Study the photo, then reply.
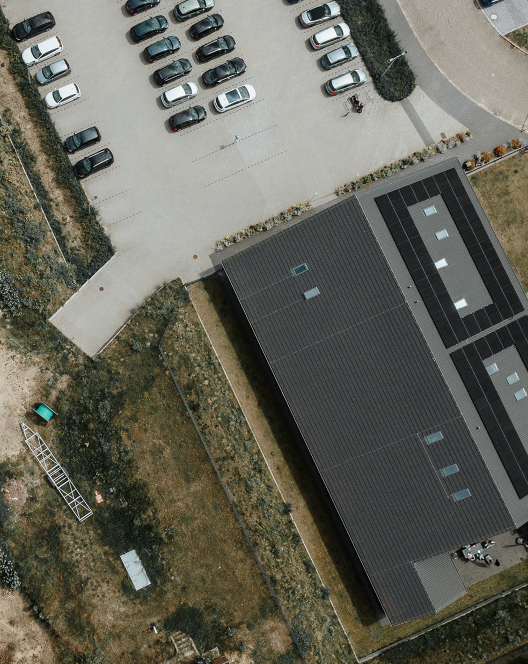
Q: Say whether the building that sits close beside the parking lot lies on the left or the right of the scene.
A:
right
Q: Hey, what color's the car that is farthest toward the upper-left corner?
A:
black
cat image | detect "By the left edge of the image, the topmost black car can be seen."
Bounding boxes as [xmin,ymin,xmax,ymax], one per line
[11,9,56,42]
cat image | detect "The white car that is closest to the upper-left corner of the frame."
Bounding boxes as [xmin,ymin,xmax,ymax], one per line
[22,36,62,67]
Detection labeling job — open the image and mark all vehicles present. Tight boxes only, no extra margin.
[72,147,116,179]
[188,12,224,41]
[167,105,208,133]
[160,81,199,109]
[42,81,81,110]
[11,9,56,42]
[309,22,348,52]
[351,94,364,115]
[22,36,62,67]
[142,35,182,65]
[321,68,367,99]
[123,0,161,19]
[172,0,216,25]
[201,56,248,88]
[127,14,170,45]
[318,43,358,72]
[62,125,102,154]
[298,0,339,31]
[194,34,237,65]
[212,83,257,114]
[34,58,72,87]
[151,58,192,87]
